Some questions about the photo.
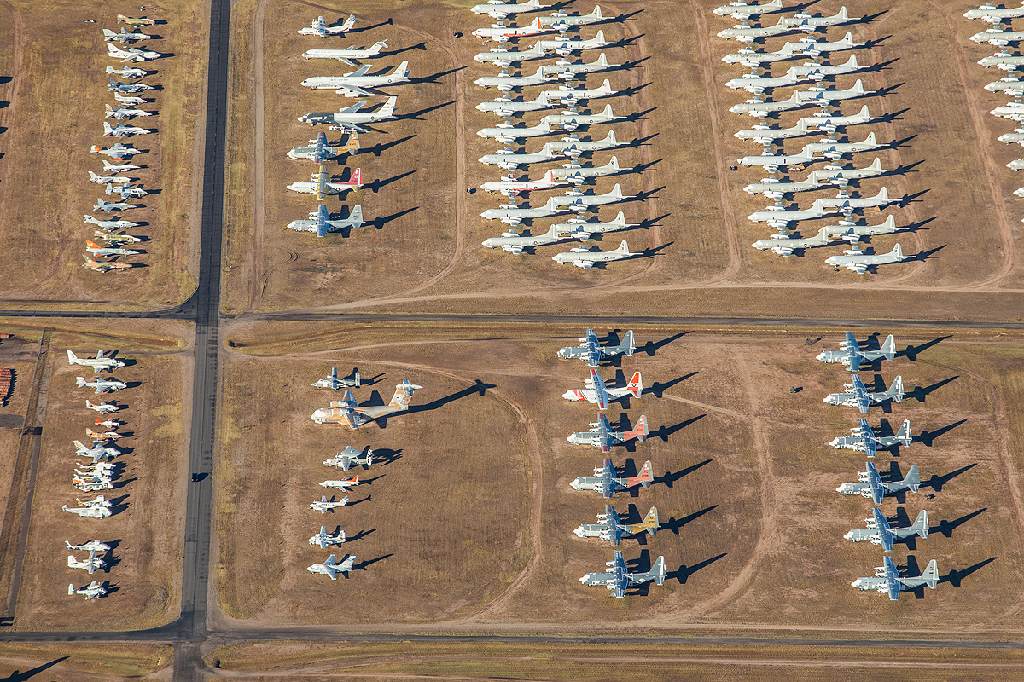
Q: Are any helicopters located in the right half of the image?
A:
No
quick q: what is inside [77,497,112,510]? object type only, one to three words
helicopter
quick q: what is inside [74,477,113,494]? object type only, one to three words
helicopter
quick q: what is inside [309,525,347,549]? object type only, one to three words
airplane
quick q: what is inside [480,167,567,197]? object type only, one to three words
airplane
